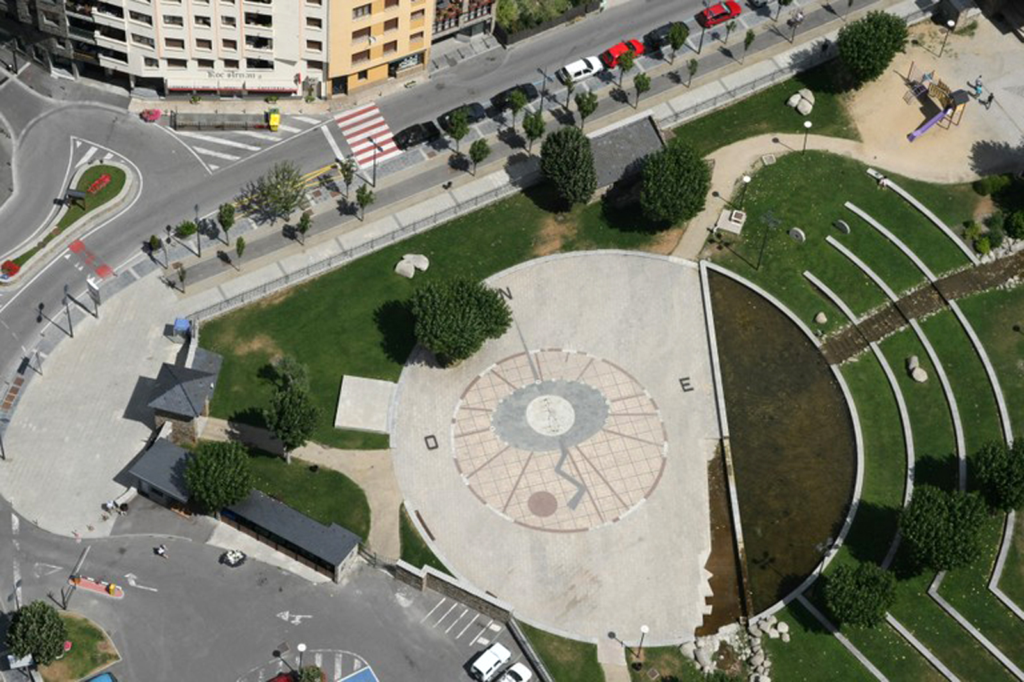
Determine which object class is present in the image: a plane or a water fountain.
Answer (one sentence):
Looking from above, you can make out a water fountain.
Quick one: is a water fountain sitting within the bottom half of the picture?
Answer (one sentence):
No, within the bottom half of the picture there is no water fountain.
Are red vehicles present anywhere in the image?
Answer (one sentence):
Yes, this view includes a red vehicle.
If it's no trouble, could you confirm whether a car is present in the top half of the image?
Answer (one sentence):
Yes, a car is visible in the top half of the image.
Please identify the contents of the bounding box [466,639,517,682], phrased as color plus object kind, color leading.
white car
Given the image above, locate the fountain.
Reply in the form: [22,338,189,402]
[715,208,747,233]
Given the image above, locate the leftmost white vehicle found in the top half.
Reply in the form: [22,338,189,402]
[555,52,605,83]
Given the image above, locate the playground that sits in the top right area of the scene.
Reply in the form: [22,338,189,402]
[672,11,1024,261]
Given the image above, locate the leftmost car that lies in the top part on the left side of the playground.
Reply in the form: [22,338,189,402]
[391,118,442,150]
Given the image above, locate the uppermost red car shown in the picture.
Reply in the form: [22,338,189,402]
[695,0,745,27]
